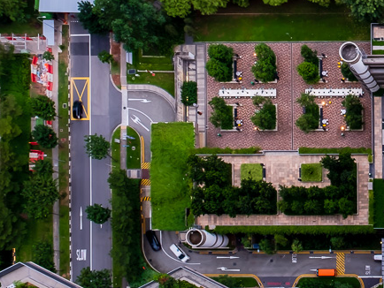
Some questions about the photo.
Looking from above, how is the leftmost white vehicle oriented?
at an angle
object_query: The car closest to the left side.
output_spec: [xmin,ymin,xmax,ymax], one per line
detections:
[72,99,84,121]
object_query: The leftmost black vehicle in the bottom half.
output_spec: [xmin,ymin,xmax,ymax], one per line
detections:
[145,229,163,252]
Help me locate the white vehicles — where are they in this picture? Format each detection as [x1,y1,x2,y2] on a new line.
[168,241,192,263]
[373,253,381,263]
